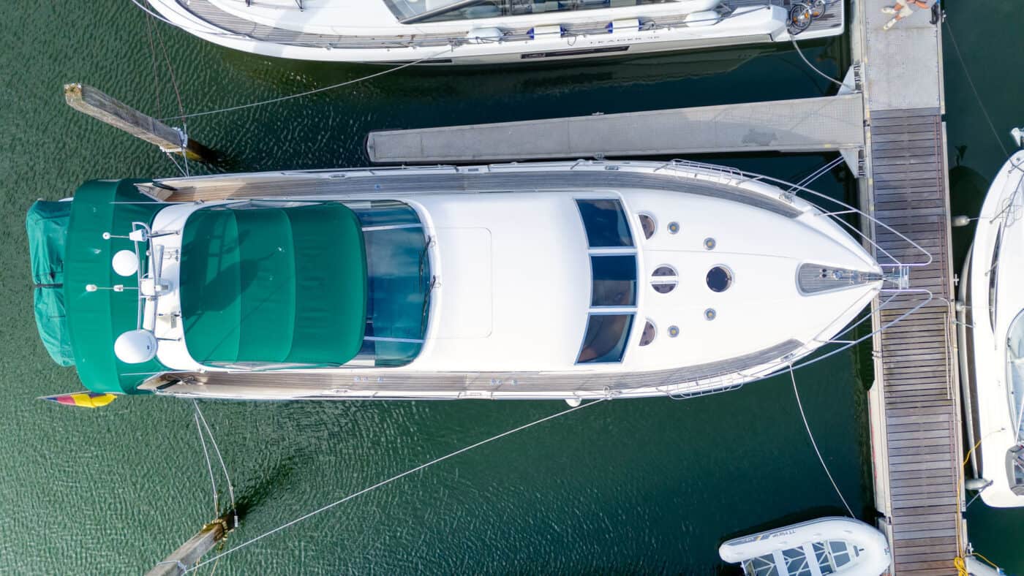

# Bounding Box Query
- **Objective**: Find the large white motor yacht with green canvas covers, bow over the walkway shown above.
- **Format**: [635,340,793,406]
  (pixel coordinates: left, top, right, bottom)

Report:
[36,158,934,408]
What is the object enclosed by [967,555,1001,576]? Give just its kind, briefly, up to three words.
pier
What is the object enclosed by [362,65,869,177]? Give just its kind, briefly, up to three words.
pier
